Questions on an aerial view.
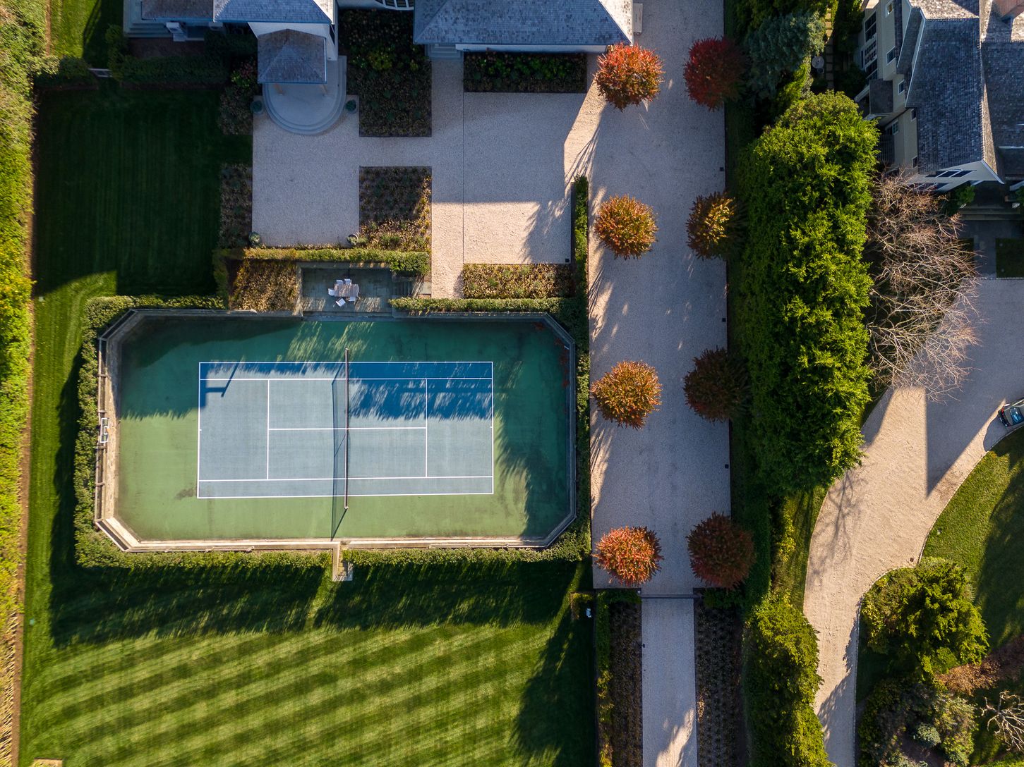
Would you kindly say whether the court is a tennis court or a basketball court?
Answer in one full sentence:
It looks like the court is a tennis court.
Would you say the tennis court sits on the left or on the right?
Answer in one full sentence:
It is on the left.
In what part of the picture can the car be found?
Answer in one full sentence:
The car sits in the right section of the image.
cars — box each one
[1000,394,1024,426]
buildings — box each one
[139,0,634,94]
[852,0,1024,226]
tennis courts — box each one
[119,320,566,542]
